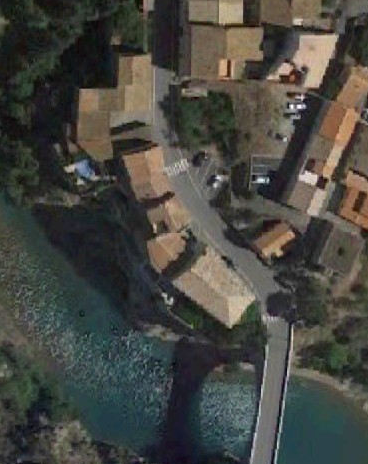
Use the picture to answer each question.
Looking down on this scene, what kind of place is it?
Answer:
residential area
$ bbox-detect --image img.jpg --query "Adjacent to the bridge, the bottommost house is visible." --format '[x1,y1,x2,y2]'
[163,248,256,327]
